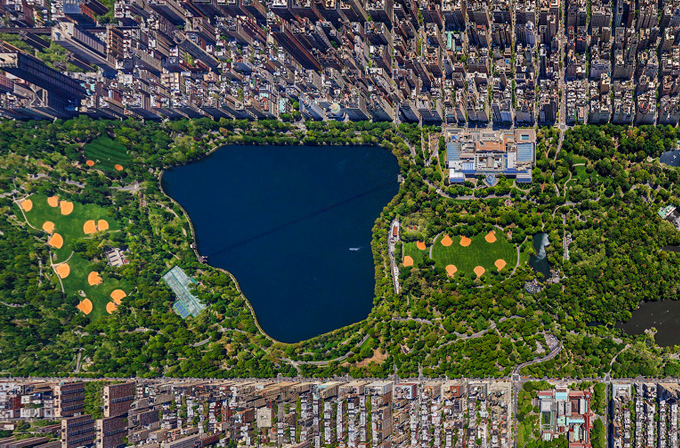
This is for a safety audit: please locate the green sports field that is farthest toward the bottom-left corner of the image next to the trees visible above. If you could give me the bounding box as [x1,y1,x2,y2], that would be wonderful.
[18,194,127,319]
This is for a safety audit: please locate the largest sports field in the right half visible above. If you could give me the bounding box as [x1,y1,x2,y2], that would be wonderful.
[433,228,519,285]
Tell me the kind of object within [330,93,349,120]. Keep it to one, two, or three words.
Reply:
building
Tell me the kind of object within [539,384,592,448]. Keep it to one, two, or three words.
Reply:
building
